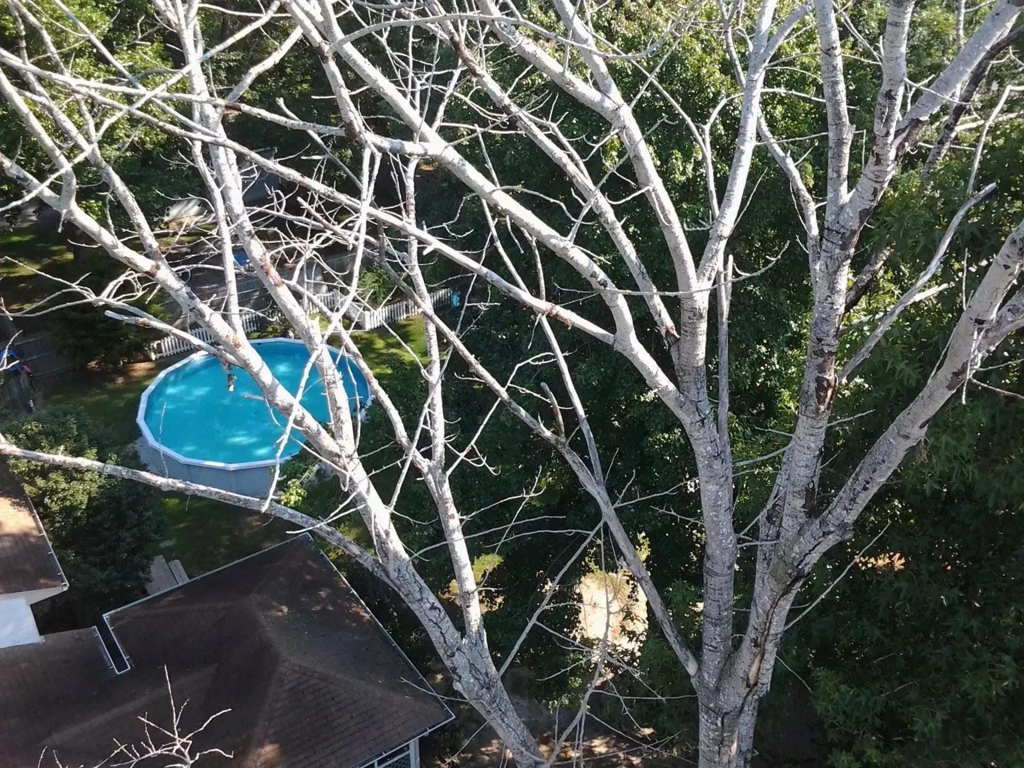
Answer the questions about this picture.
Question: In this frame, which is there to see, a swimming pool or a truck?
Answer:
swimming pool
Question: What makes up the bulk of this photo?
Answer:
trees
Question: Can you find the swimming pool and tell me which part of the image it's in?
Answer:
left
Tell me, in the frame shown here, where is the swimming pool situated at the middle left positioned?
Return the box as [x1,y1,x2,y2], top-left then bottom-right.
[135,338,375,499]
